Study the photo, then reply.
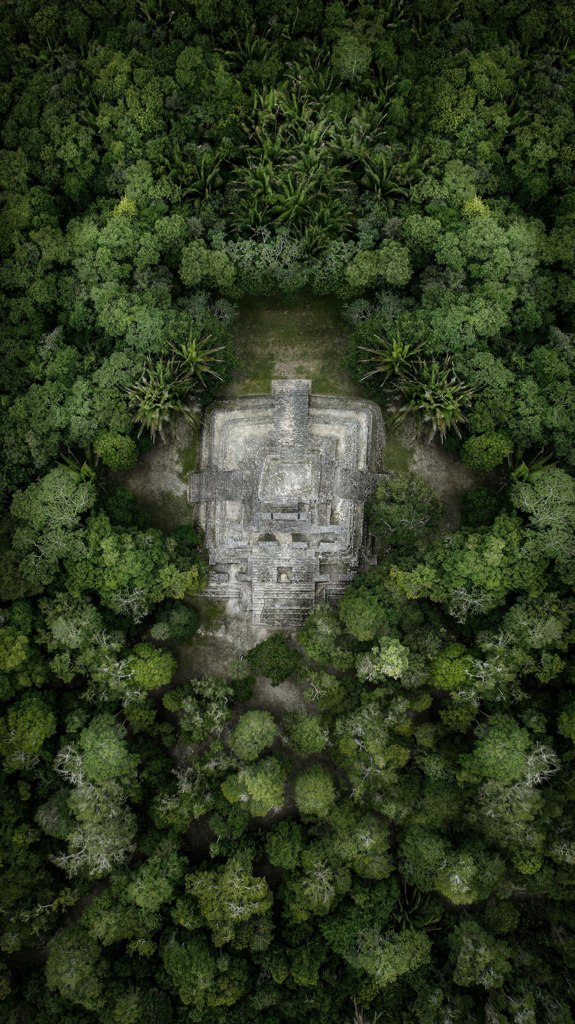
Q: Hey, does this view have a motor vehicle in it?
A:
No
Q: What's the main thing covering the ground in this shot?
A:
trees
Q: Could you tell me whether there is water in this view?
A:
No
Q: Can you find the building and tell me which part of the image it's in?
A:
center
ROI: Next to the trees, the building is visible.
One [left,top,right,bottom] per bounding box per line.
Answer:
[189,378,391,630]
